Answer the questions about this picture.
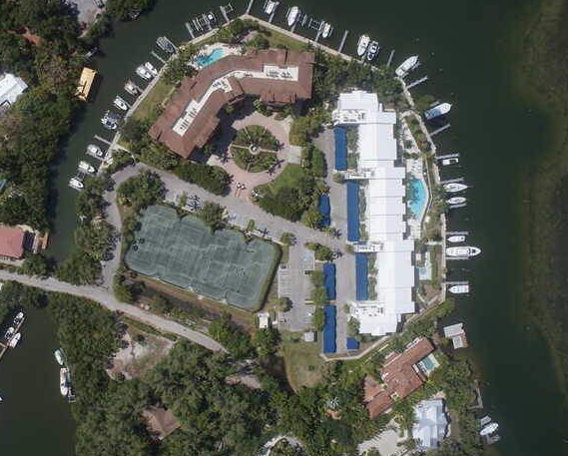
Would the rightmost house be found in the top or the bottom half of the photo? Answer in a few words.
bottom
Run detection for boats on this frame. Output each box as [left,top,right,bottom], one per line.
[68,180,83,188]
[323,21,331,38]
[78,161,94,170]
[207,9,214,23]
[358,33,371,55]
[446,246,482,256]
[445,197,467,204]
[100,116,116,128]
[443,158,460,166]
[13,313,23,326]
[9,333,20,349]
[289,5,300,26]
[368,39,379,60]
[135,68,149,78]
[449,286,469,293]
[58,367,66,397]
[422,104,453,121]
[155,36,174,51]
[266,0,275,13]
[393,55,419,77]
[442,183,469,191]
[143,61,157,74]
[4,327,14,340]
[448,236,466,242]
[111,97,126,109]
[122,82,137,93]
[478,424,499,437]
[85,144,102,155]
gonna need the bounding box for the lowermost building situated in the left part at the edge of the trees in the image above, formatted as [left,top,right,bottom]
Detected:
[142,405,181,440]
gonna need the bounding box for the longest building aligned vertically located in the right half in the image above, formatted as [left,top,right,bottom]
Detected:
[330,90,417,336]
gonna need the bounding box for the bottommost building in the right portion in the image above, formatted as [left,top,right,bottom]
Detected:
[410,397,448,447]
